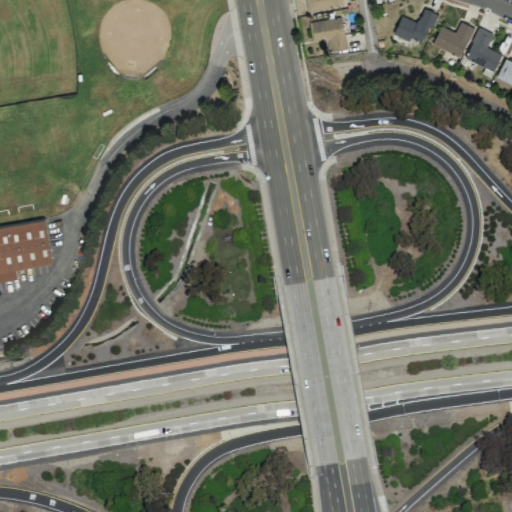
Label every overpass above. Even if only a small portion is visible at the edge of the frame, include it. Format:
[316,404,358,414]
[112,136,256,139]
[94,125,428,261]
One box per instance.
[276,276,377,468]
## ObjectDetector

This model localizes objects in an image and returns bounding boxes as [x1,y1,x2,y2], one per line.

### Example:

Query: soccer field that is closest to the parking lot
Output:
[0,92,100,223]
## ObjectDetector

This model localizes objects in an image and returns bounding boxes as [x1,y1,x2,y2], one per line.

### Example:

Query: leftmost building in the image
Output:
[0,220,52,282]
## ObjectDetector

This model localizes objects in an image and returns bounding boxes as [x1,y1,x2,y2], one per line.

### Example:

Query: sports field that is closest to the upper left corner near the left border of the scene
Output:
[0,0,76,104]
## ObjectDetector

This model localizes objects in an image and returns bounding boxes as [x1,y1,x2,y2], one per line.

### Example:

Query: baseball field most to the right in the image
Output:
[71,0,228,150]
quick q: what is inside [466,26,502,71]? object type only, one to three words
house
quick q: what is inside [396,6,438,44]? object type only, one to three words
house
